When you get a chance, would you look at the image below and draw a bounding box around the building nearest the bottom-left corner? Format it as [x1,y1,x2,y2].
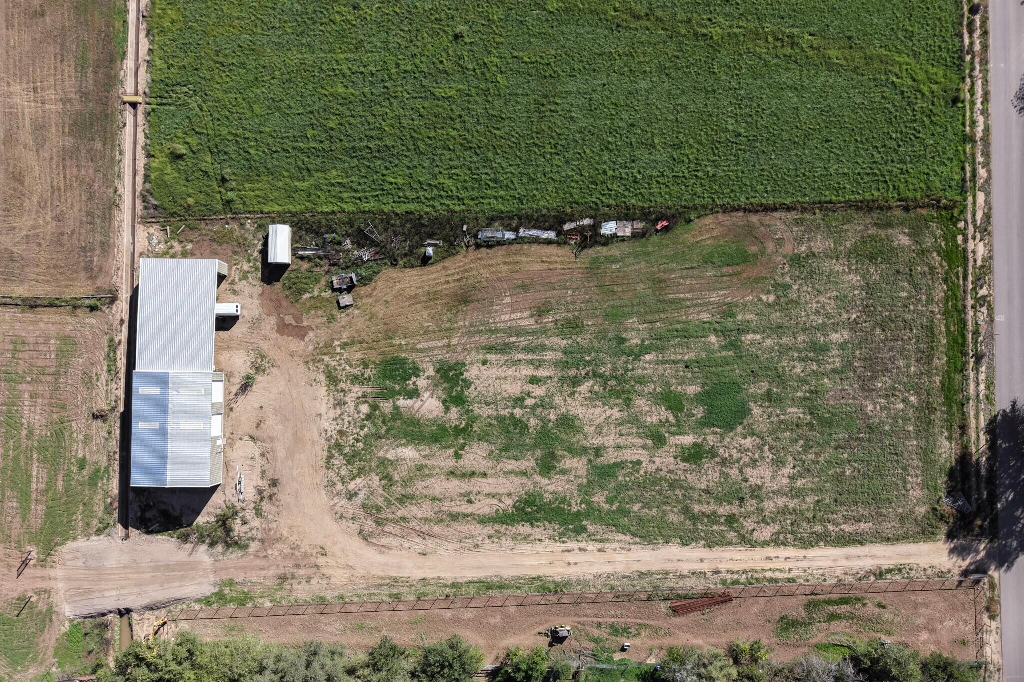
[130,371,224,487]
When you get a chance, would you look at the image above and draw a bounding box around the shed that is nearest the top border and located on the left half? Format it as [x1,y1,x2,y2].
[269,224,293,263]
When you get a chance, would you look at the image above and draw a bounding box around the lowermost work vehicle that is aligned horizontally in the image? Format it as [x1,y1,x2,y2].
[540,623,572,640]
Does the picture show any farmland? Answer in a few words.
Yes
